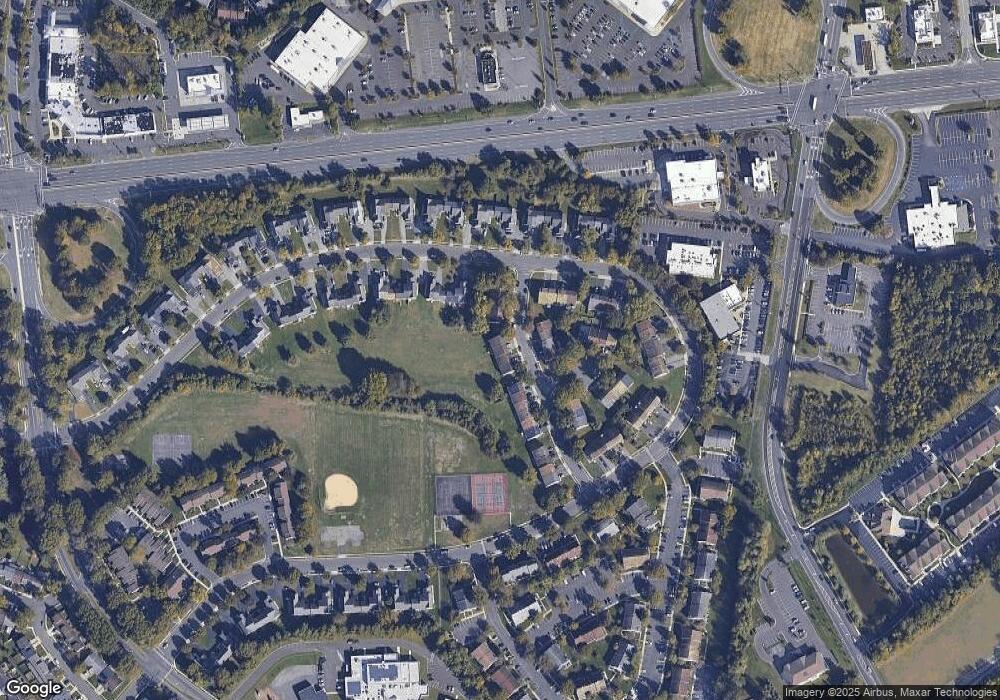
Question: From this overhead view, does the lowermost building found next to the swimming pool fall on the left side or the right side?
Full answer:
The lowermost building found next to the swimming pool sits on the right side.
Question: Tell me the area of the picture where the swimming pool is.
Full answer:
You can find the swimming pool in the bottom right area of the picture.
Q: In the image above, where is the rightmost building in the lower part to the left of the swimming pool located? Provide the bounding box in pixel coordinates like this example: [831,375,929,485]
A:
[877,509,897,537]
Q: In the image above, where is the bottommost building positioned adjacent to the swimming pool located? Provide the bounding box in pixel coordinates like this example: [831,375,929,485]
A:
[891,529,955,586]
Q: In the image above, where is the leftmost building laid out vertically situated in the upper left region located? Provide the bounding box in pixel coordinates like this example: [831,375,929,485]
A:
[44,27,102,139]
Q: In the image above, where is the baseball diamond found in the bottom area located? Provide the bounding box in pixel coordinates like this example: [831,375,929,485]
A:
[319,474,357,517]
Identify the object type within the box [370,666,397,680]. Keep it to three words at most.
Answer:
solar panel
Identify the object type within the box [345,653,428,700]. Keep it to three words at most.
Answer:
building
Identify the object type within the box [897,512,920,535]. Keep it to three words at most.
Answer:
swimming pool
